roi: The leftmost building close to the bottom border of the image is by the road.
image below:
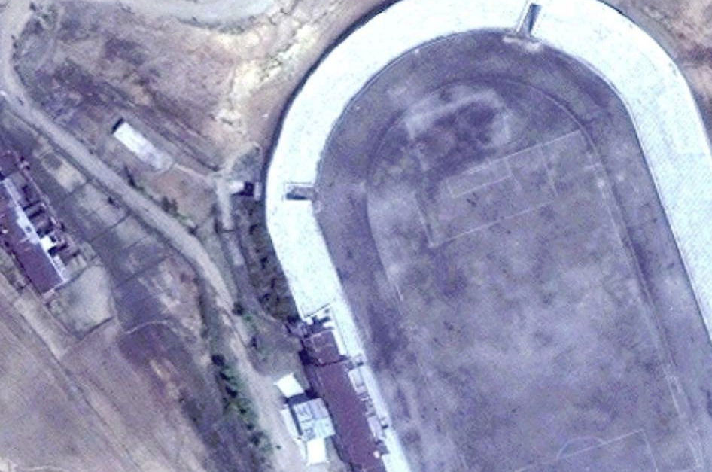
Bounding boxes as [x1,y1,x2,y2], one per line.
[273,372,335,467]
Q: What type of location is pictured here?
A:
sports ground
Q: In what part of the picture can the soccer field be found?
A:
right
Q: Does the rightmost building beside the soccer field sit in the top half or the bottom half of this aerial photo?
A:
bottom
